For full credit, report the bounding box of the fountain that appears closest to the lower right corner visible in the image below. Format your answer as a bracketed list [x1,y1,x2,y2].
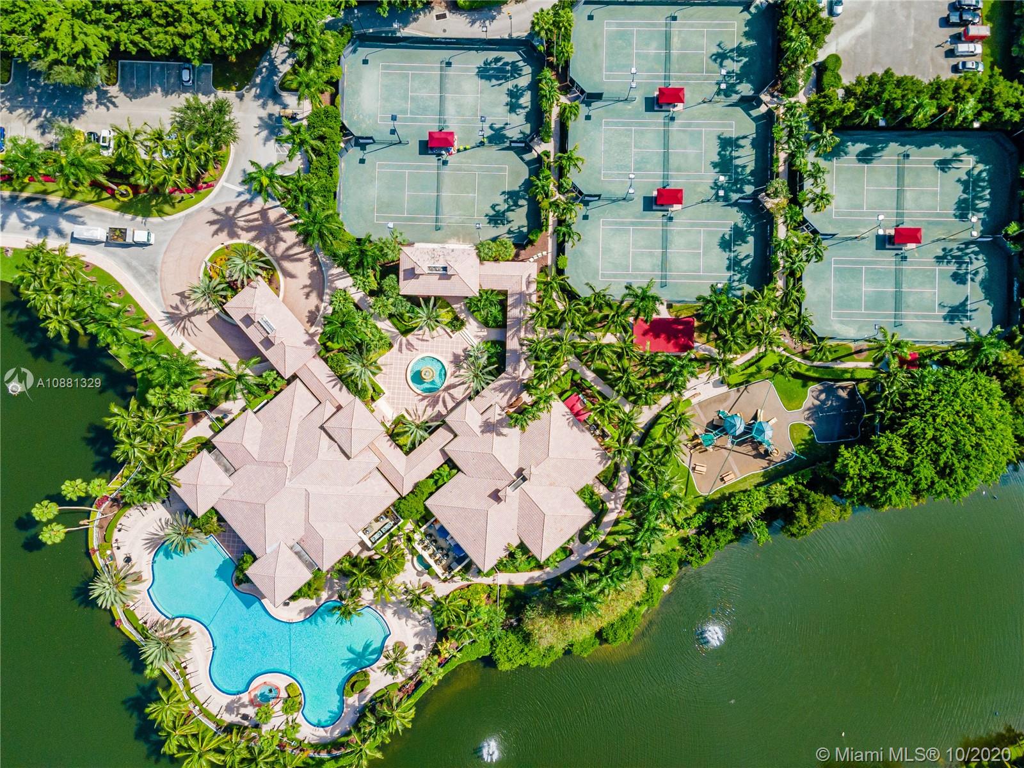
[694,619,728,650]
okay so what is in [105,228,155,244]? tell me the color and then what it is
white vehicle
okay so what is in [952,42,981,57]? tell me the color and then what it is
white car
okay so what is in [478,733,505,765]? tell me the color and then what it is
white fountain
